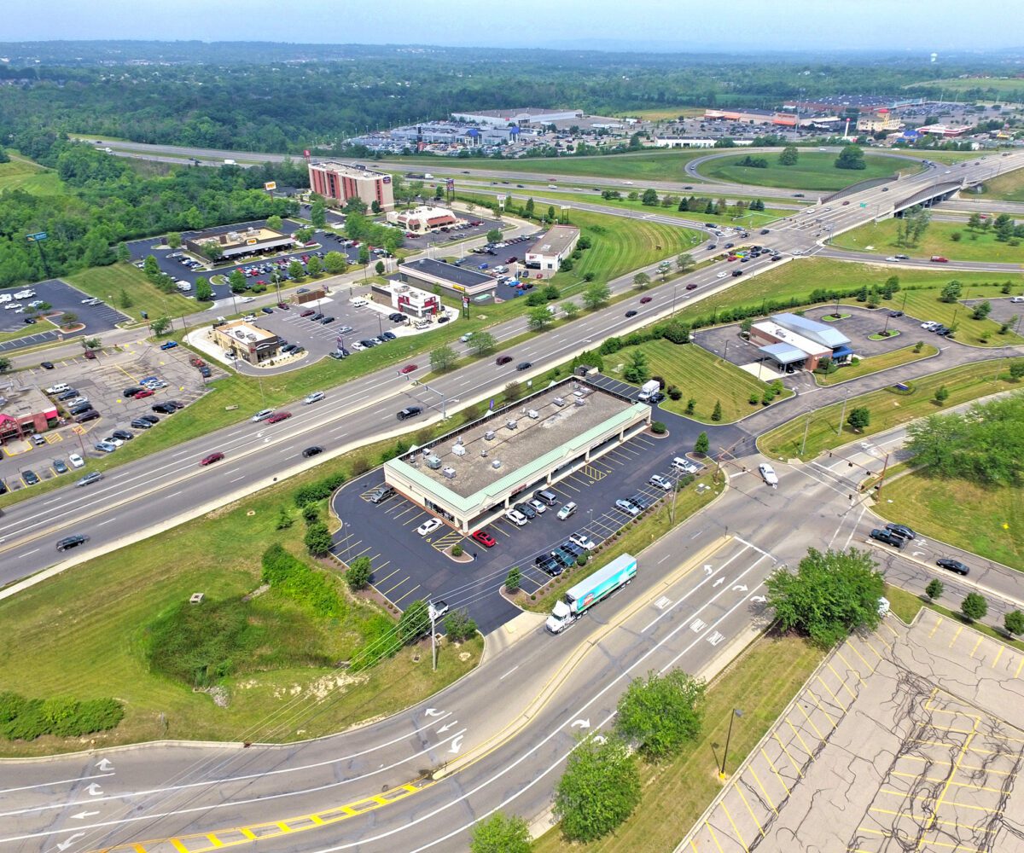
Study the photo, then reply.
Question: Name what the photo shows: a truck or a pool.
truck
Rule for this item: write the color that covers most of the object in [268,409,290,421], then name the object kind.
red vehicle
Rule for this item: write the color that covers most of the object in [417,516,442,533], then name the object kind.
white car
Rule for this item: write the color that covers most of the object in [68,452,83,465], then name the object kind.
white vehicle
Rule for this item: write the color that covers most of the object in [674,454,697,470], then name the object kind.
white car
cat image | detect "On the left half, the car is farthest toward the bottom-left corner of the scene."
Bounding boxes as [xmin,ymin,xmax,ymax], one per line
[54,531,87,549]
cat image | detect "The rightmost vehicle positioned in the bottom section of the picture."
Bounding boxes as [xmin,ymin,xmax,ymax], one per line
[937,555,972,574]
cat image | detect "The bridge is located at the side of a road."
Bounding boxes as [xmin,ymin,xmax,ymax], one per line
[805,161,1024,233]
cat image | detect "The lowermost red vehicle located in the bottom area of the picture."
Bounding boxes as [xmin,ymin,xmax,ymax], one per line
[472,529,496,545]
